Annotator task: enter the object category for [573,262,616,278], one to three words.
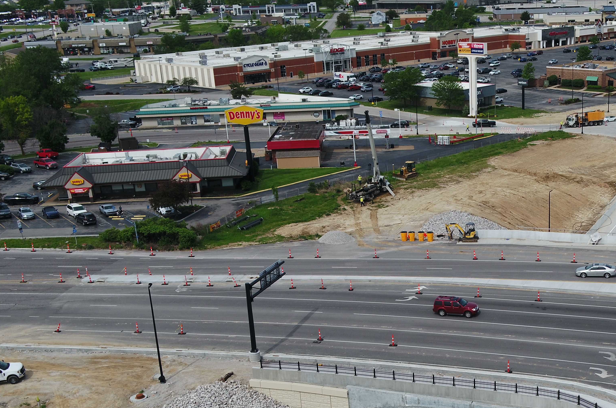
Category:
car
